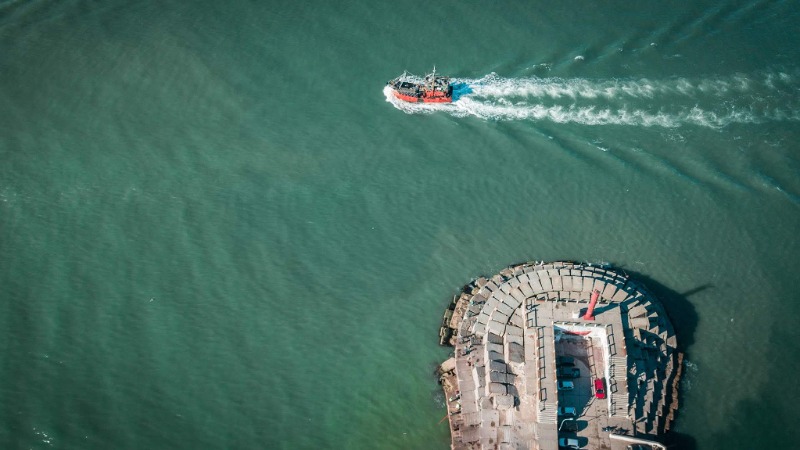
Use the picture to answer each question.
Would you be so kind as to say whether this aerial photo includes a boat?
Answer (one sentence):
Yes, the photo shows a boat.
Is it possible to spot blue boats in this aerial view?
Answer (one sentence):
No, the photo shows no blue boat.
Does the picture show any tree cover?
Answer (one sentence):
No, there's no tree cover in this view.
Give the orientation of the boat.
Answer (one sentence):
Seen from above, the boat lies from side to side.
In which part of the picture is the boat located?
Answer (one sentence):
You can find the boat in the top area of the picture.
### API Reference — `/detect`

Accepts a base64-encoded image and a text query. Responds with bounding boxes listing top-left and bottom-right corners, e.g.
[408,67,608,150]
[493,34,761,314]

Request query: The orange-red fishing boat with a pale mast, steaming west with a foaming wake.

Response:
[385,66,455,102]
